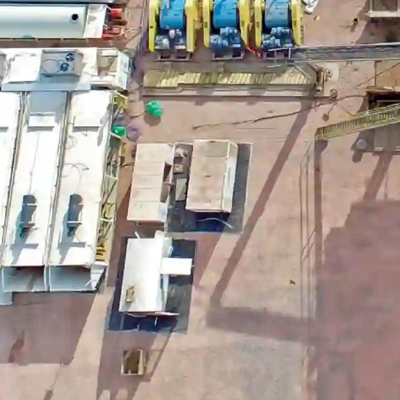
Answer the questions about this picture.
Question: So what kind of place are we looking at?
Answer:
industrial area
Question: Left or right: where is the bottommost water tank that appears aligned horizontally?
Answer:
left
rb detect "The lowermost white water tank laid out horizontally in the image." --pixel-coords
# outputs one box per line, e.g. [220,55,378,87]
[0,3,113,40]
